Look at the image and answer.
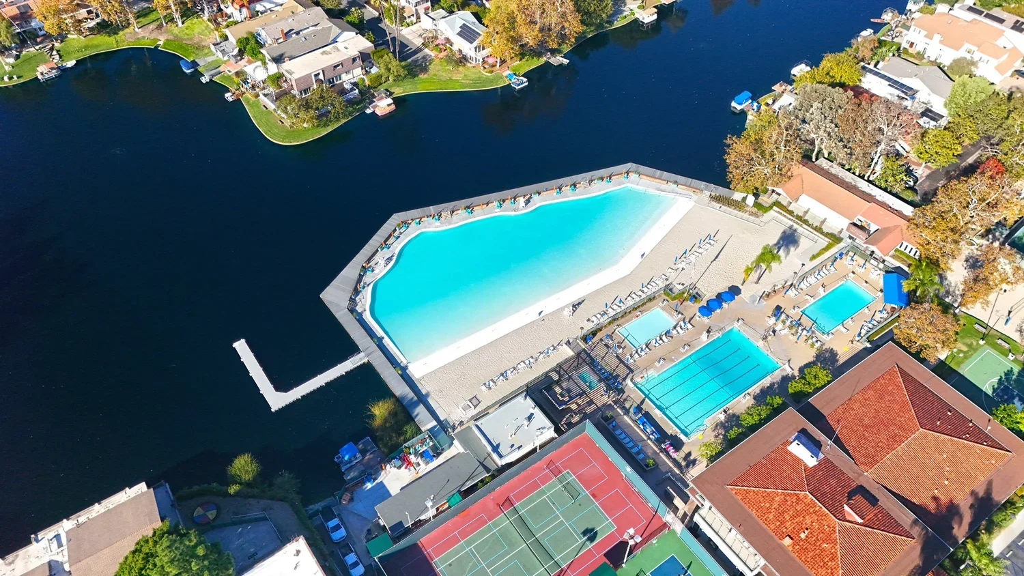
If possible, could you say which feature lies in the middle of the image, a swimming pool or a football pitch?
swimming pool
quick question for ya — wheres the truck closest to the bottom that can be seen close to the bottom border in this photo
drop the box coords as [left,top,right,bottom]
[338,536,367,576]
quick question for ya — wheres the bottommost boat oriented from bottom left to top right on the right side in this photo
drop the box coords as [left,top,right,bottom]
[727,86,757,112]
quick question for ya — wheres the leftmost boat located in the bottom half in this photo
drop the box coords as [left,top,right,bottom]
[334,435,363,465]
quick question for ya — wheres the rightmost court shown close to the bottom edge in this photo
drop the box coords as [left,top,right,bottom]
[625,528,715,576]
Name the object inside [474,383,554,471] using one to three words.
building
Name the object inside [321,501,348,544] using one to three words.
truck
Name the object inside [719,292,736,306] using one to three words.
umbrella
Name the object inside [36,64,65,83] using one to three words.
boat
